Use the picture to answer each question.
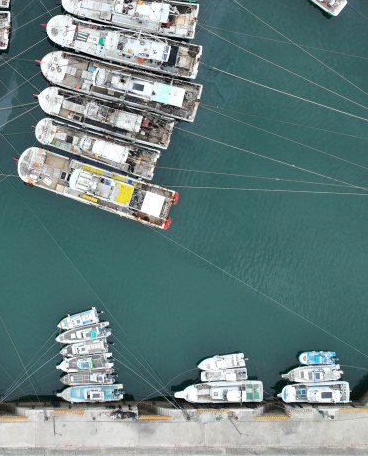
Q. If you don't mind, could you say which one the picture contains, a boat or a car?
boat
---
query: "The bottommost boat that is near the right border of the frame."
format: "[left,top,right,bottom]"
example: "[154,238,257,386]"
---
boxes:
[278,380,350,406]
